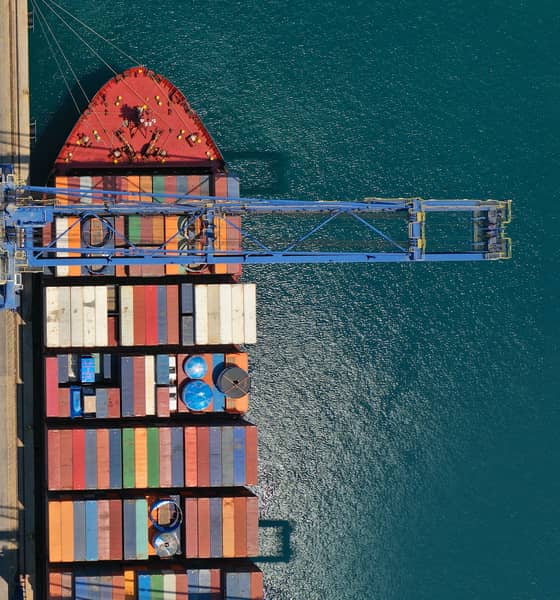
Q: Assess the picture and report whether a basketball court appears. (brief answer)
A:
No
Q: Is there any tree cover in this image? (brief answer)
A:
No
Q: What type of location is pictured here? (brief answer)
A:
port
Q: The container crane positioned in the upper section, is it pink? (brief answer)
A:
No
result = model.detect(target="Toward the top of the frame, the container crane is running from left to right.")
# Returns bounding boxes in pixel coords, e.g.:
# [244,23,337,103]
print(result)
[0,158,511,320]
